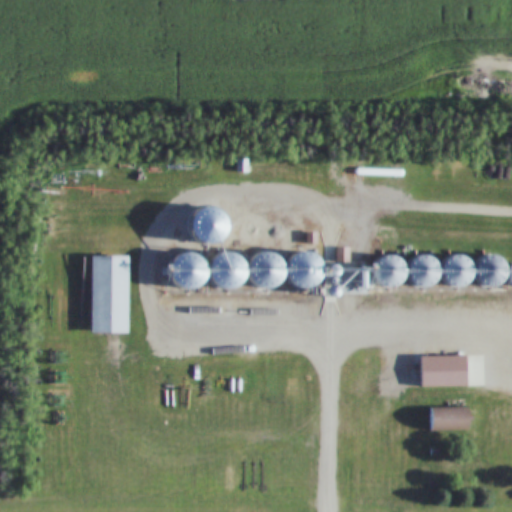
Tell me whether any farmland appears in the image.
Yes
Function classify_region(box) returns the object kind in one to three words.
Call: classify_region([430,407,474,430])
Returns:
barn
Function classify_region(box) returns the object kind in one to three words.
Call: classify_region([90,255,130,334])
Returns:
barn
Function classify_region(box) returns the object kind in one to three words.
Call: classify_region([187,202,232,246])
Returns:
silo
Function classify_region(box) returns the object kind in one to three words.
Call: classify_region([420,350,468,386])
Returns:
house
